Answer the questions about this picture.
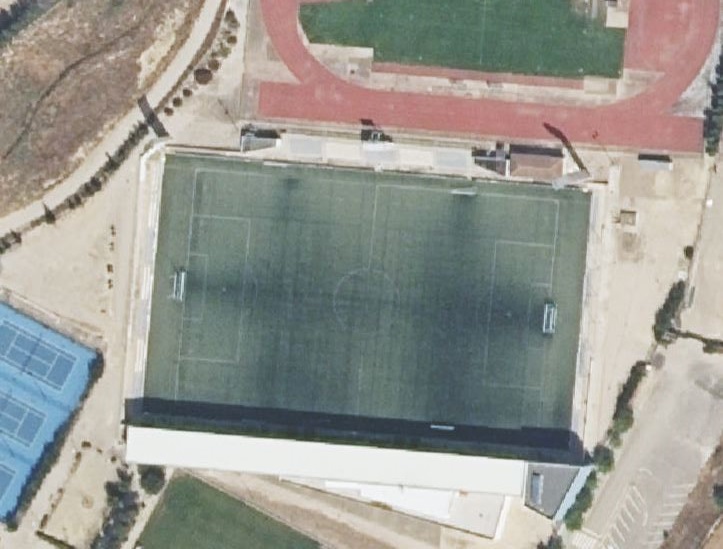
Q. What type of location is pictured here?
sports ground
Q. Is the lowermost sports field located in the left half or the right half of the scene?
left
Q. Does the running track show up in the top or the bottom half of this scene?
top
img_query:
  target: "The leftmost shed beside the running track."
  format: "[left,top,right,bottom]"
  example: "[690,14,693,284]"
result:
[241,136,280,154]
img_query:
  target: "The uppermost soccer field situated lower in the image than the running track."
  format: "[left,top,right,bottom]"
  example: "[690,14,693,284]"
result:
[143,154,590,451]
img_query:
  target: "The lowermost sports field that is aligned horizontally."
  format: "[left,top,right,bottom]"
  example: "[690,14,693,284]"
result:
[139,472,329,549]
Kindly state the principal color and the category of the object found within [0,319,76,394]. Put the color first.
blue tennis court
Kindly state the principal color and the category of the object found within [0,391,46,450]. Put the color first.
blue tennis court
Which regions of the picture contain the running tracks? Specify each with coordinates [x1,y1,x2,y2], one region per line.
[258,0,720,155]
